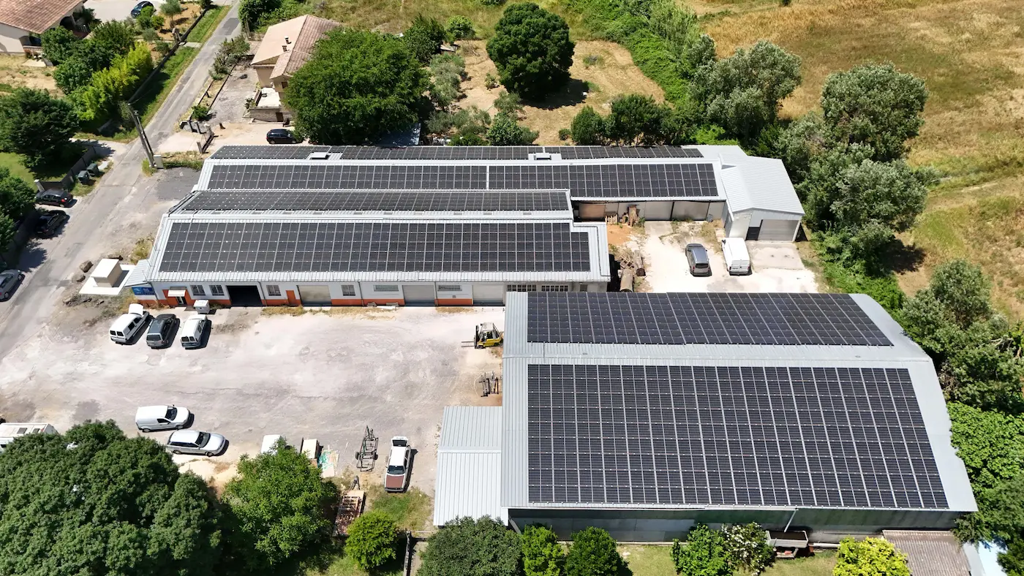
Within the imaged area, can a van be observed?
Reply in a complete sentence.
Yes, the frame does contain a van.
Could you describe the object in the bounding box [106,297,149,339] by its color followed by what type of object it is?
white van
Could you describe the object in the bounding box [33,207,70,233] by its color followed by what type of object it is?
black car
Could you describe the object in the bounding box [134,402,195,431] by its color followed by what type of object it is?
white van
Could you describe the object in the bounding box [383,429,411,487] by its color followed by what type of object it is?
white car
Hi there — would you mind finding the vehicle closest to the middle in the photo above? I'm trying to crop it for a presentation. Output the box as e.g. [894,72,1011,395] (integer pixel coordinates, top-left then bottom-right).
[465,320,503,345]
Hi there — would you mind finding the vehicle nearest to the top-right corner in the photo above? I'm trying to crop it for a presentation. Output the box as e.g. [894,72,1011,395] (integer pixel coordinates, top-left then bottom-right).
[723,237,750,272]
